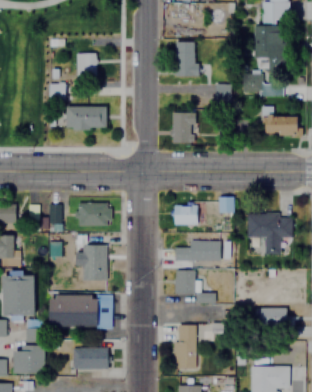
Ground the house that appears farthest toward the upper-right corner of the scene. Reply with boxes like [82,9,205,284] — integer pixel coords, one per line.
[263,0,291,23]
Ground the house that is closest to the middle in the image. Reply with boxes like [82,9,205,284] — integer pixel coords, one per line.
[174,202,200,225]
